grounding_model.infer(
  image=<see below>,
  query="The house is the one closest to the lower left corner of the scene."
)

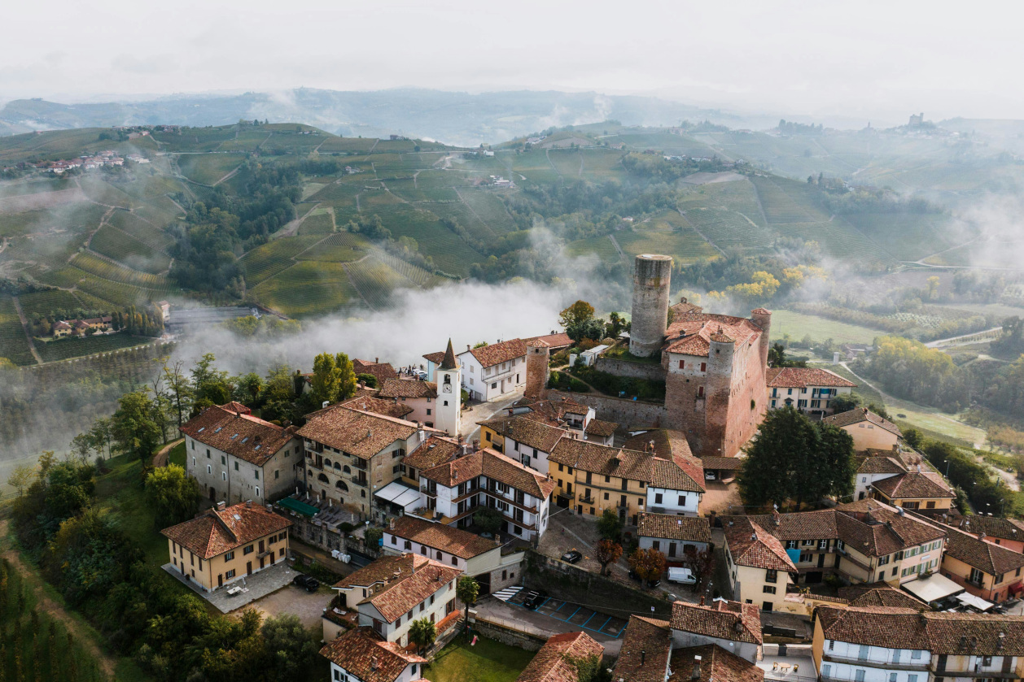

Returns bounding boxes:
[163,496,294,589]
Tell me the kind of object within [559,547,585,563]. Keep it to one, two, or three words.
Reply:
car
